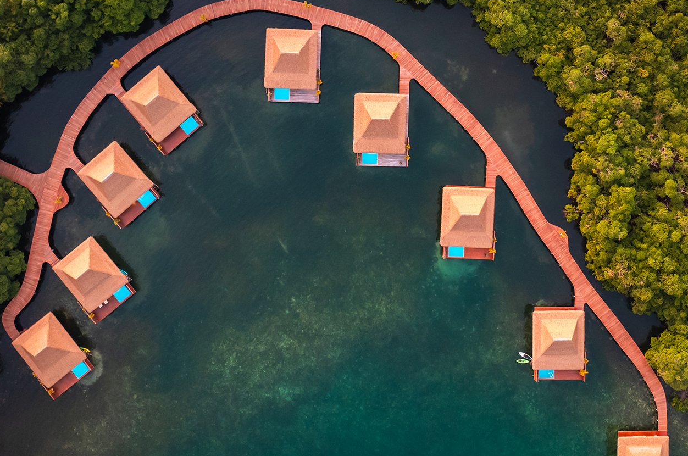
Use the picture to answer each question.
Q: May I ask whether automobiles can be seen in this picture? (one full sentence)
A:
No, I can see no automobile in this picture.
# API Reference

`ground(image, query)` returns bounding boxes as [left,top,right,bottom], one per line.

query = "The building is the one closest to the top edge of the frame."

[263,29,322,104]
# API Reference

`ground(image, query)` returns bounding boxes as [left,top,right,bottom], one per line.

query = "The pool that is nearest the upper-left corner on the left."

[179,117,199,135]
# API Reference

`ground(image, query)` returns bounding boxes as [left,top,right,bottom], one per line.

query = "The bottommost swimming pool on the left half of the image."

[72,359,90,377]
